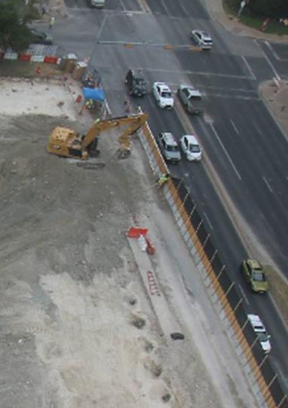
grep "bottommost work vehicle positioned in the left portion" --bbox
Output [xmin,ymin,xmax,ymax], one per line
[50,110,153,159]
